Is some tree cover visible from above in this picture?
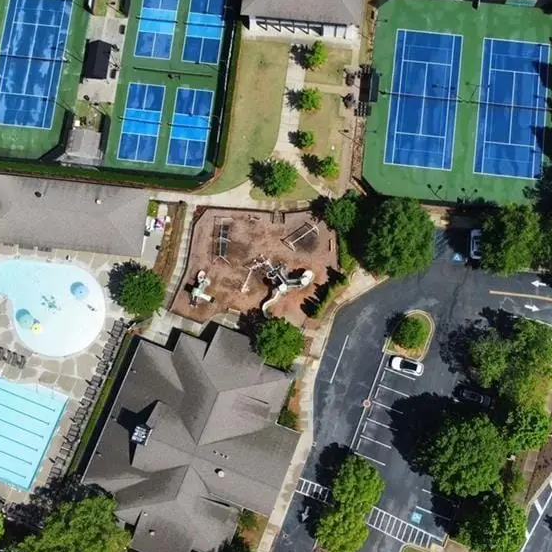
Yes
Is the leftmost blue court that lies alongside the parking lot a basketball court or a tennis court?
tennis court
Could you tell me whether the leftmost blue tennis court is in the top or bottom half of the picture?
top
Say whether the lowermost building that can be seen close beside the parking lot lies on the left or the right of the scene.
left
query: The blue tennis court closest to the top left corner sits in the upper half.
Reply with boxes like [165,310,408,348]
[0,0,74,129]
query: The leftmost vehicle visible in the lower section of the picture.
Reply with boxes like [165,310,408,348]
[390,353,424,376]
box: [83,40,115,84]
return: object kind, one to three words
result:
building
